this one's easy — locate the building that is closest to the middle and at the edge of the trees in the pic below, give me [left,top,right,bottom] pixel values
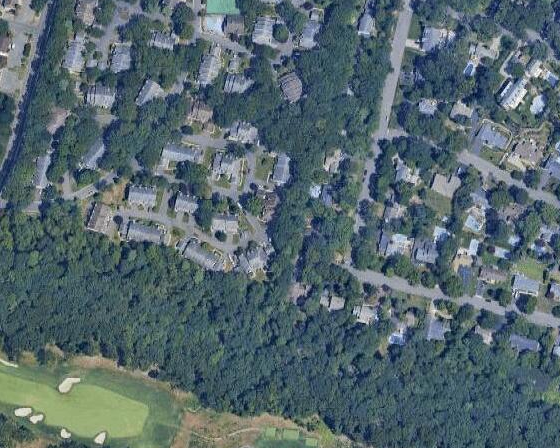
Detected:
[257,186,280,221]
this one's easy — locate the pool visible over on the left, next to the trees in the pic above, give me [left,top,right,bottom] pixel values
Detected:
[205,15,226,33]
